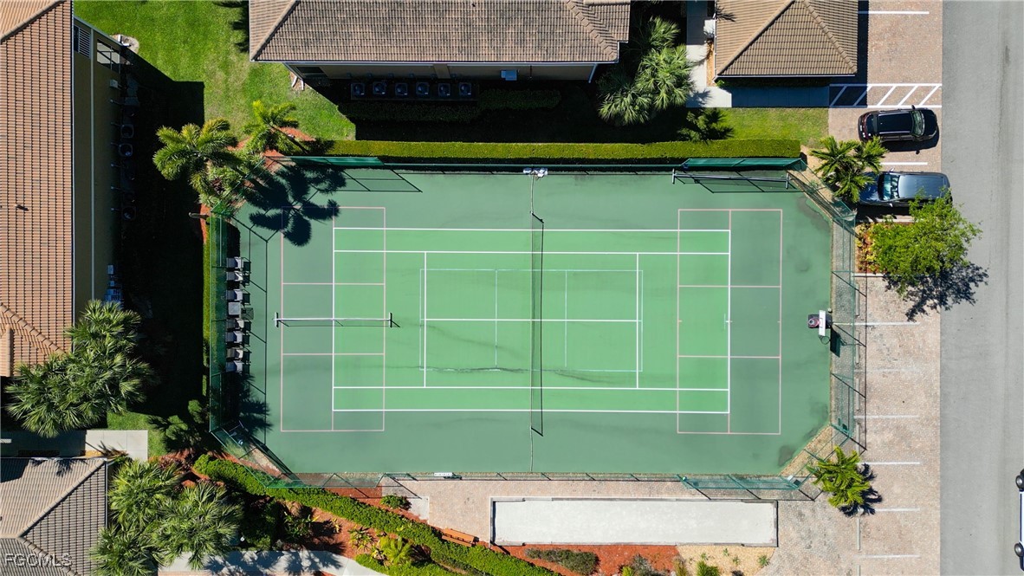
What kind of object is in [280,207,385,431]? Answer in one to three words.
sports court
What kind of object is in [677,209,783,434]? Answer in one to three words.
sports court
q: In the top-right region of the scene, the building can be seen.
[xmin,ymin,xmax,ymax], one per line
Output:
[712,0,861,80]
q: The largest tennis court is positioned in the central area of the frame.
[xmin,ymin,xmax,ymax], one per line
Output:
[227,166,832,475]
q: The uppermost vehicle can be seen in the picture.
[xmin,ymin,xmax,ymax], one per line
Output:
[853,105,936,146]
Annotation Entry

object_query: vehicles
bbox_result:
[855,167,950,210]
[1014,470,1024,576]
[853,105,936,146]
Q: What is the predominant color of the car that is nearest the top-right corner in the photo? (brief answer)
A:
black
